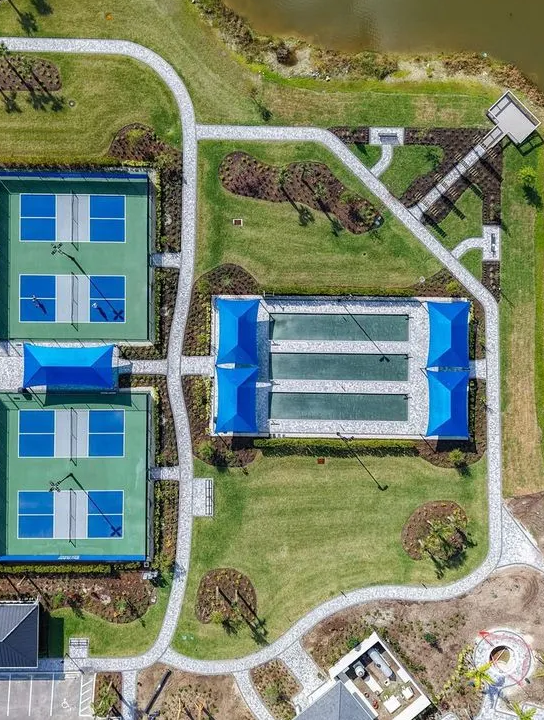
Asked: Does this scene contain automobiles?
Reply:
No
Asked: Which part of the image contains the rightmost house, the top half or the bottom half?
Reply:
bottom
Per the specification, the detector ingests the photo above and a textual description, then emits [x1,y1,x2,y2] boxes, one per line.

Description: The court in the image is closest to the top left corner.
[20,193,126,242]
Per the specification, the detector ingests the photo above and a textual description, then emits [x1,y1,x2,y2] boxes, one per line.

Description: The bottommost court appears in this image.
[18,490,124,539]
